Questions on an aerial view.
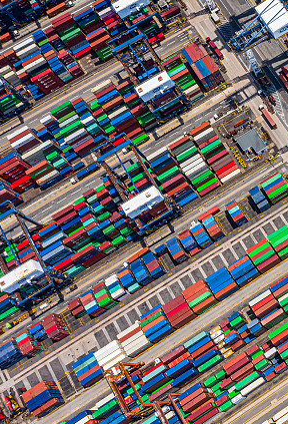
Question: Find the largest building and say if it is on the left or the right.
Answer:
right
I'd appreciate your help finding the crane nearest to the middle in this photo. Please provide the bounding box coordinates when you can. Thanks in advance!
[90,129,192,245]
